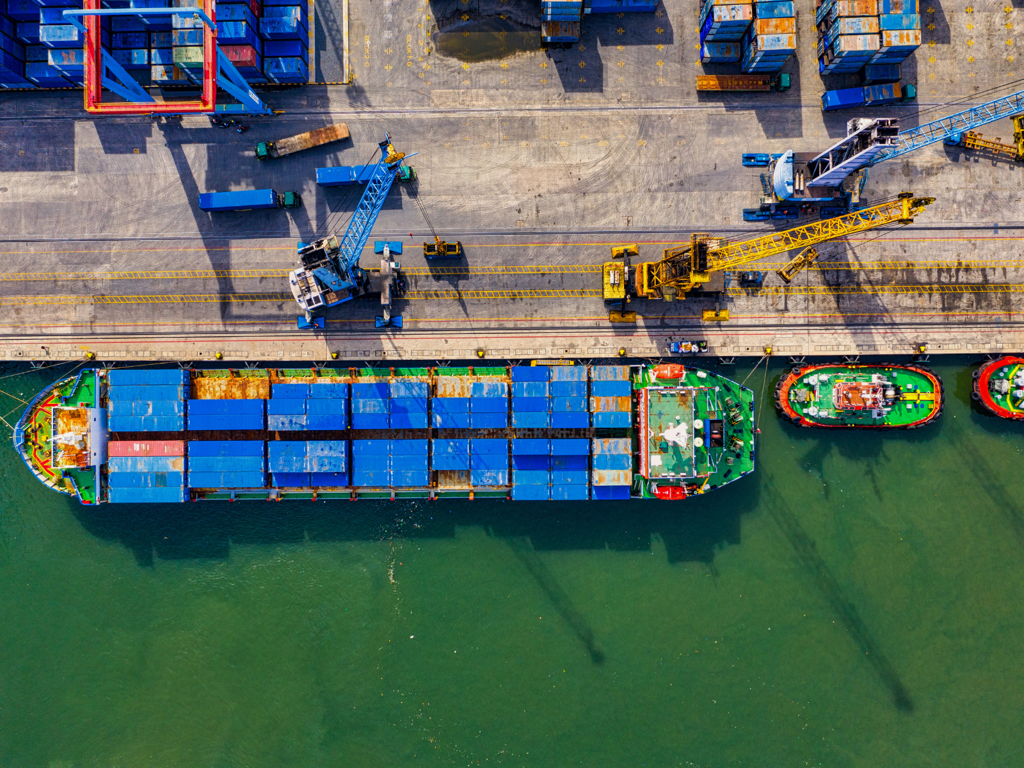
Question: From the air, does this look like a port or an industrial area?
port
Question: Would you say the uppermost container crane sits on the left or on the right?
left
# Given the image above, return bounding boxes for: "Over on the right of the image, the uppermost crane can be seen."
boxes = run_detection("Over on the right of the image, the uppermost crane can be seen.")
[741,73,1024,221]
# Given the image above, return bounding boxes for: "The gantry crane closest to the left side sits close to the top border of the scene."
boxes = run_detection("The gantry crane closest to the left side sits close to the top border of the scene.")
[61,0,289,119]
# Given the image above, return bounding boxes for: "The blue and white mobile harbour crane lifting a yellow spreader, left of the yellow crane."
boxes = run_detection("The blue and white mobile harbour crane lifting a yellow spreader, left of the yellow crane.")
[289,131,443,328]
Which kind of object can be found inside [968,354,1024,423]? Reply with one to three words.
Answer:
boat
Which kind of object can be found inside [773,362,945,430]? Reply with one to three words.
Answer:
boat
